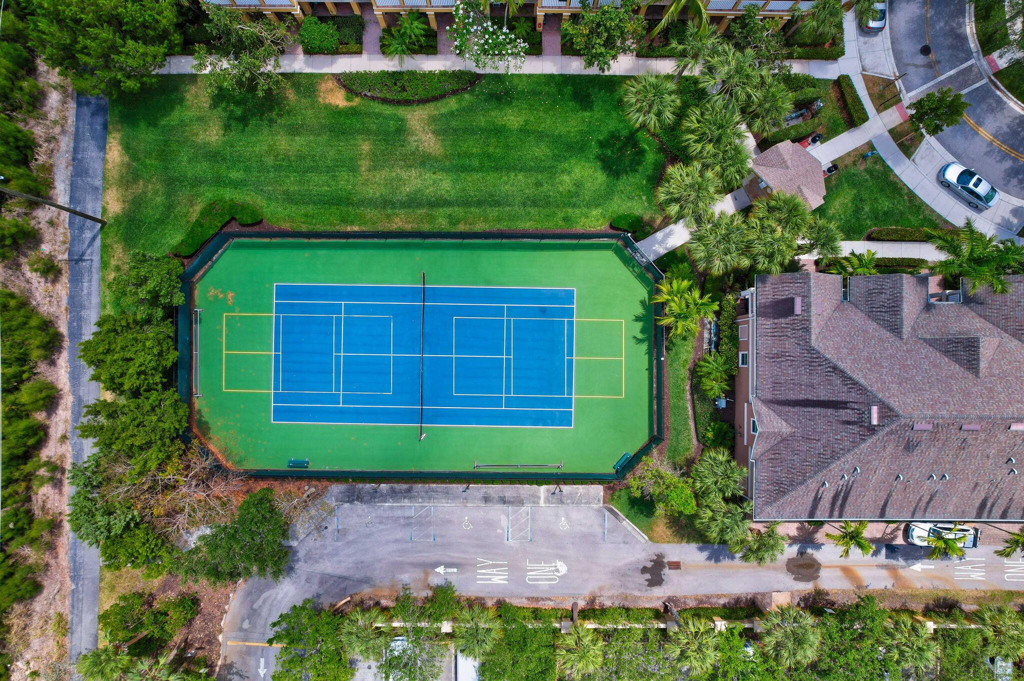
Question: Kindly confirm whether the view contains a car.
Yes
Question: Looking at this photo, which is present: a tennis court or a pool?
tennis court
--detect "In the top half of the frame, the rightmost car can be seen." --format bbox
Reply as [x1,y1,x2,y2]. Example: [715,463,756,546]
[940,159,1005,207]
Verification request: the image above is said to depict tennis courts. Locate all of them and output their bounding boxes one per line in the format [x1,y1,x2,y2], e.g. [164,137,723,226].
[195,241,652,471]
